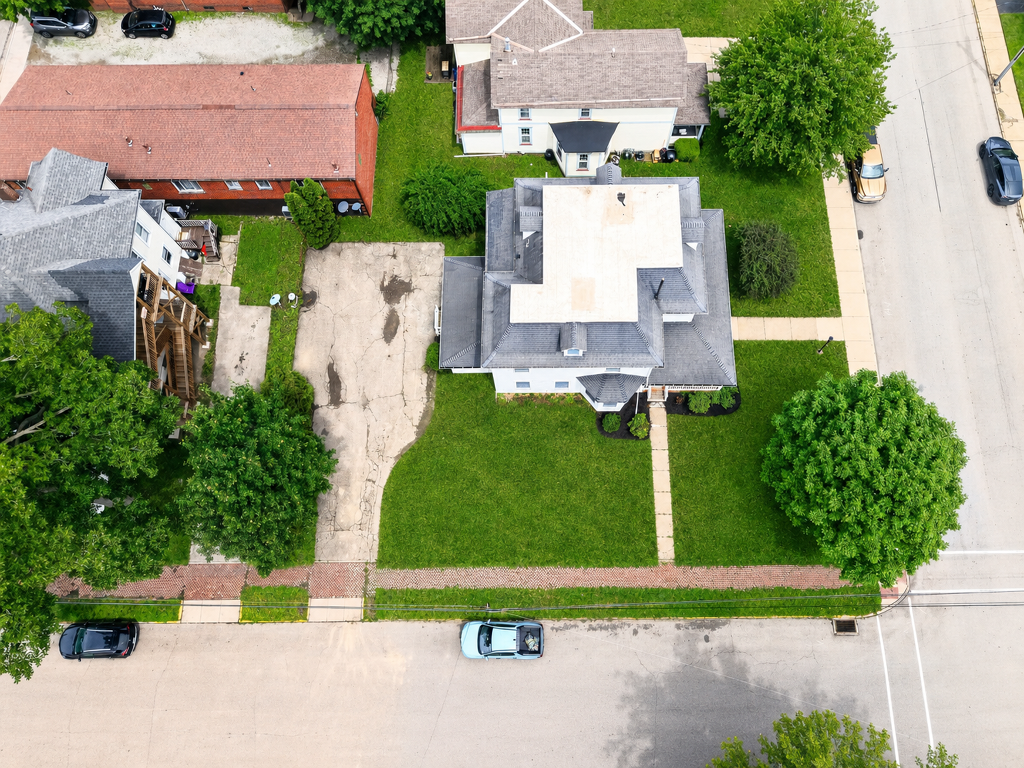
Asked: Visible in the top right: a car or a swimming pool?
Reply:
car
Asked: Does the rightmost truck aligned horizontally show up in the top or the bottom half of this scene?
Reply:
bottom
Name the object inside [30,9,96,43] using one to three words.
car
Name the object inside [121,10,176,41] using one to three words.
car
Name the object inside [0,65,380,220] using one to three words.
building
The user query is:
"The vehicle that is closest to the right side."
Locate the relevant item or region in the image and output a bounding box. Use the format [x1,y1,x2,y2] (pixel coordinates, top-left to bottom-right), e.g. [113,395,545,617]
[979,139,1024,204]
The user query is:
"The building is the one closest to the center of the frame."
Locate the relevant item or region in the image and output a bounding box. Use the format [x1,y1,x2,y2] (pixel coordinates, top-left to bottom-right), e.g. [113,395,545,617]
[435,159,738,416]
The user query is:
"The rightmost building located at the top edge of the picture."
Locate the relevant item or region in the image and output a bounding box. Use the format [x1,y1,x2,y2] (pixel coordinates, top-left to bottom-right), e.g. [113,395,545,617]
[446,0,709,176]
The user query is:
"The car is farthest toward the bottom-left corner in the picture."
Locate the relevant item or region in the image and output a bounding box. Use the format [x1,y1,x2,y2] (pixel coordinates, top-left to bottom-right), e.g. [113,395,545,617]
[61,621,143,662]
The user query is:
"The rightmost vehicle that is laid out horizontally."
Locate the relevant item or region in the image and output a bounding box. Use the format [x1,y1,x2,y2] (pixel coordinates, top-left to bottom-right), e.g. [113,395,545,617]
[460,619,546,661]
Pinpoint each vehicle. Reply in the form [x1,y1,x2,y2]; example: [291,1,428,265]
[460,619,546,661]
[30,9,96,43]
[61,621,143,662]
[853,131,890,204]
[121,10,176,41]
[979,139,1024,204]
